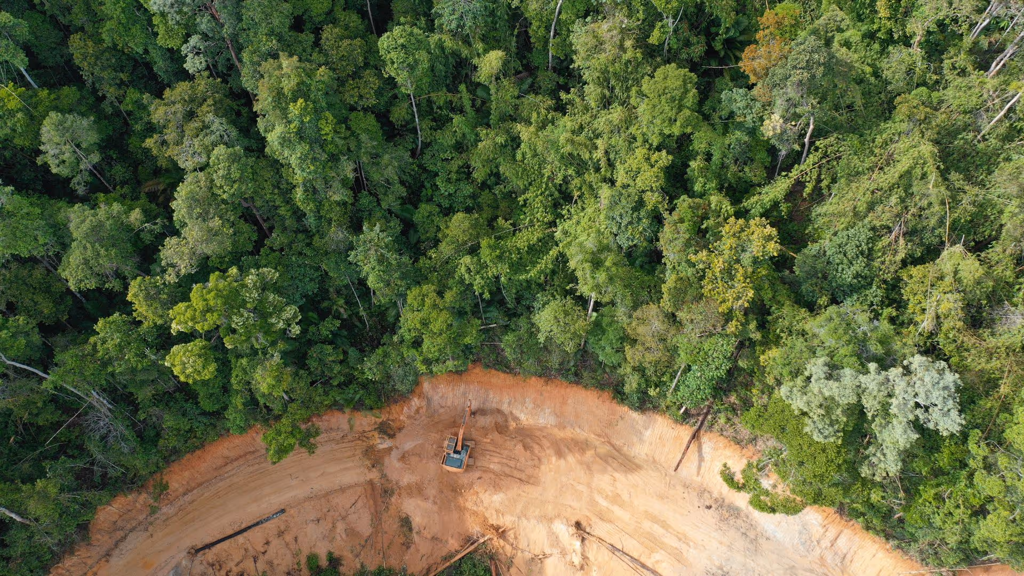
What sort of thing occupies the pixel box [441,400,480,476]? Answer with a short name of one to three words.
work vehicle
